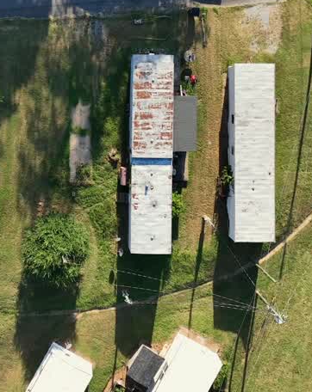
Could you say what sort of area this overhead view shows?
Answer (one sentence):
What you see here is a residential area.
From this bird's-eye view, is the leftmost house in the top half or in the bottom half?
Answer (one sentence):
The leftmost house is in the bottom half of the image.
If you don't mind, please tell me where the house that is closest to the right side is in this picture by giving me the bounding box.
[228,63,275,243]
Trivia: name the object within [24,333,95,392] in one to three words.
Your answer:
house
